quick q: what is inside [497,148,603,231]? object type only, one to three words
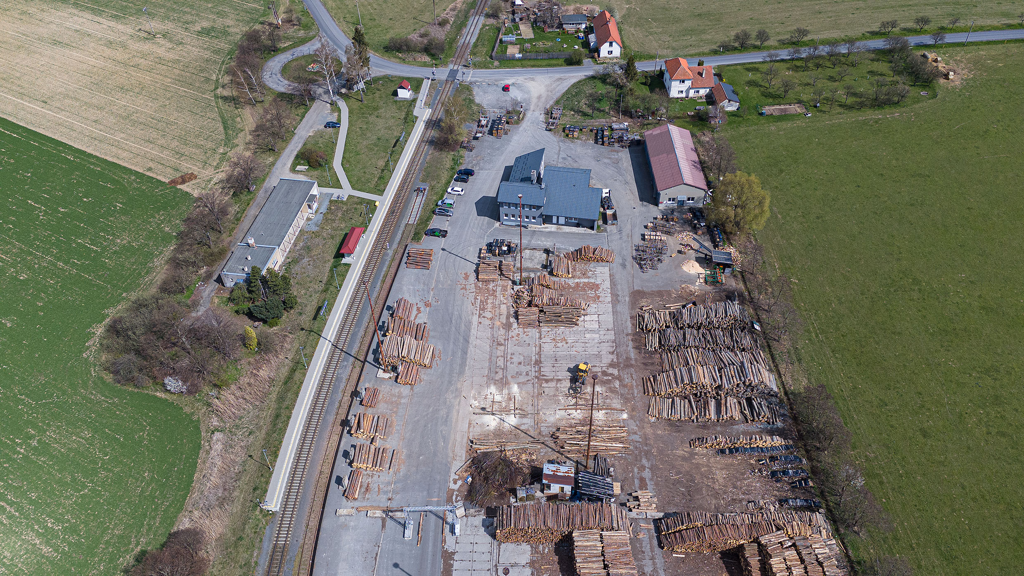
building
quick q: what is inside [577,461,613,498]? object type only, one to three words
shed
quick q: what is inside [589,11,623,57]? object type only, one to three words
house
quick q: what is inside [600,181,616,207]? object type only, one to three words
vehicle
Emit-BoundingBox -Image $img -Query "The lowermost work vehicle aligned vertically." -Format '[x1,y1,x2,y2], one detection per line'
[576,358,591,392]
